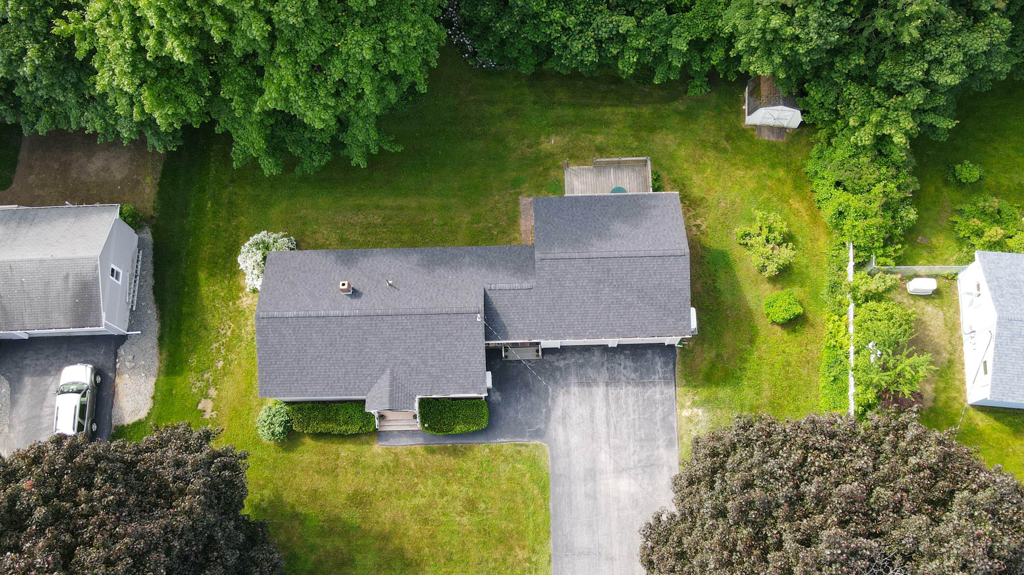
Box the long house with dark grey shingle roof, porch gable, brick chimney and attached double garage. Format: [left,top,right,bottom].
[256,190,692,431]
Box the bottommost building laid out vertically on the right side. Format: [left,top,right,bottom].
[958,251,1024,407]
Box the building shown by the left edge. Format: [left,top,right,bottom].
[0,194,143,340]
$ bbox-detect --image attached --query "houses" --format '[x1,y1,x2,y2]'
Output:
[0,194,143,340]
[256,190,692,431]
[958,251,1024,407]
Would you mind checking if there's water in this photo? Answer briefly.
No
